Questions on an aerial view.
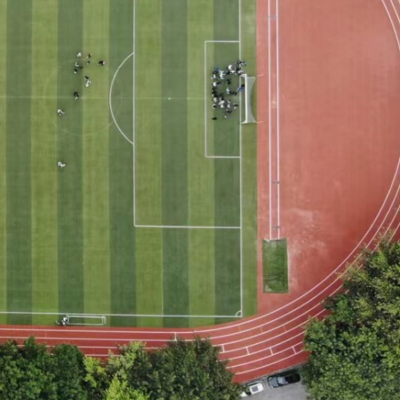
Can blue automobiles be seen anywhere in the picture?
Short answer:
No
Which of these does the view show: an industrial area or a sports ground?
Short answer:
sports ground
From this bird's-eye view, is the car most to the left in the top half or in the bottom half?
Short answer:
bottom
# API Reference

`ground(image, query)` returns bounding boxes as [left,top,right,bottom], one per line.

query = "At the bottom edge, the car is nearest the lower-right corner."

[269,371,300,388]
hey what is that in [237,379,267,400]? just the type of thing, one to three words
car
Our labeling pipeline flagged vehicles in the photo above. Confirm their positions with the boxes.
[269,371,300,388]
[237,379,267,400]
